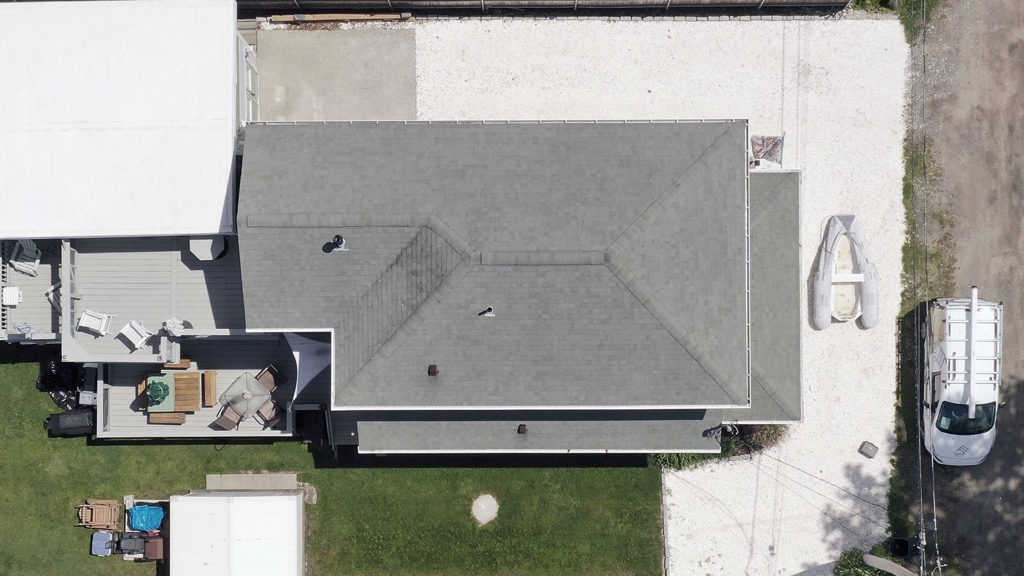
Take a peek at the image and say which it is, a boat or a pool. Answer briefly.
boat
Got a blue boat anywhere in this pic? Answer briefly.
No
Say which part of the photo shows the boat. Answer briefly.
right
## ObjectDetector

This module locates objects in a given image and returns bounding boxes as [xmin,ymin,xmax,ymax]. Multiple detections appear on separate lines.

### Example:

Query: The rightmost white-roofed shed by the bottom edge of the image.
[170,488,304,576]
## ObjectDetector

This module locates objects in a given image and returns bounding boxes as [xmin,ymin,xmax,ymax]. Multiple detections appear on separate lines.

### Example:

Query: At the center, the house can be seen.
[238,119,802,456]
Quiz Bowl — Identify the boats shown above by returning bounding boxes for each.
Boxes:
[815,214,878,329]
